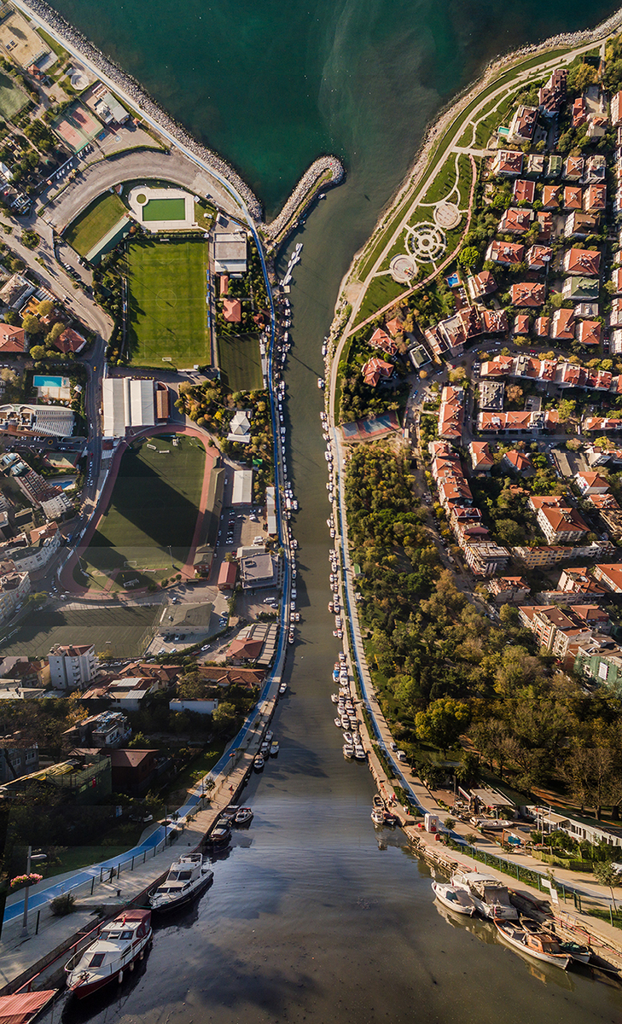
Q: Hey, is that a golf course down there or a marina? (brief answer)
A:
marina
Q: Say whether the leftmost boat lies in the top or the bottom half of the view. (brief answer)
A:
bottom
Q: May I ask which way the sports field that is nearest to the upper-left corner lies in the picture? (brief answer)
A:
diagonally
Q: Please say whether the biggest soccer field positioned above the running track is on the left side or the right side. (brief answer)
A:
left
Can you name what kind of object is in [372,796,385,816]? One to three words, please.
boat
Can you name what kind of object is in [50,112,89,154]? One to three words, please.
tennis court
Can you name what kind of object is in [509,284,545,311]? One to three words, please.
house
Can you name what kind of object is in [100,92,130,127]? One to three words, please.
building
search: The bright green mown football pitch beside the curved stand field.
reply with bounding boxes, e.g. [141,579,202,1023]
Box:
[126,240,211,370]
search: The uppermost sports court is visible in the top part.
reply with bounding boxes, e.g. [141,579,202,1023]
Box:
[0,8,49,67]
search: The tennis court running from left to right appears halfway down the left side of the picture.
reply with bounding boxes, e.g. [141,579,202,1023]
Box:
[42,452,81,468]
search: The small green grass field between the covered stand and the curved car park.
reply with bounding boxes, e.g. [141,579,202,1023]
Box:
[62,192,127,257]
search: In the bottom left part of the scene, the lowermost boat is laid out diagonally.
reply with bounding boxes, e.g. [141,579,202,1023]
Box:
[71,913,162,1009]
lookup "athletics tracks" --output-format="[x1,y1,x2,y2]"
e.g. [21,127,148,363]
[60,425,220,595]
